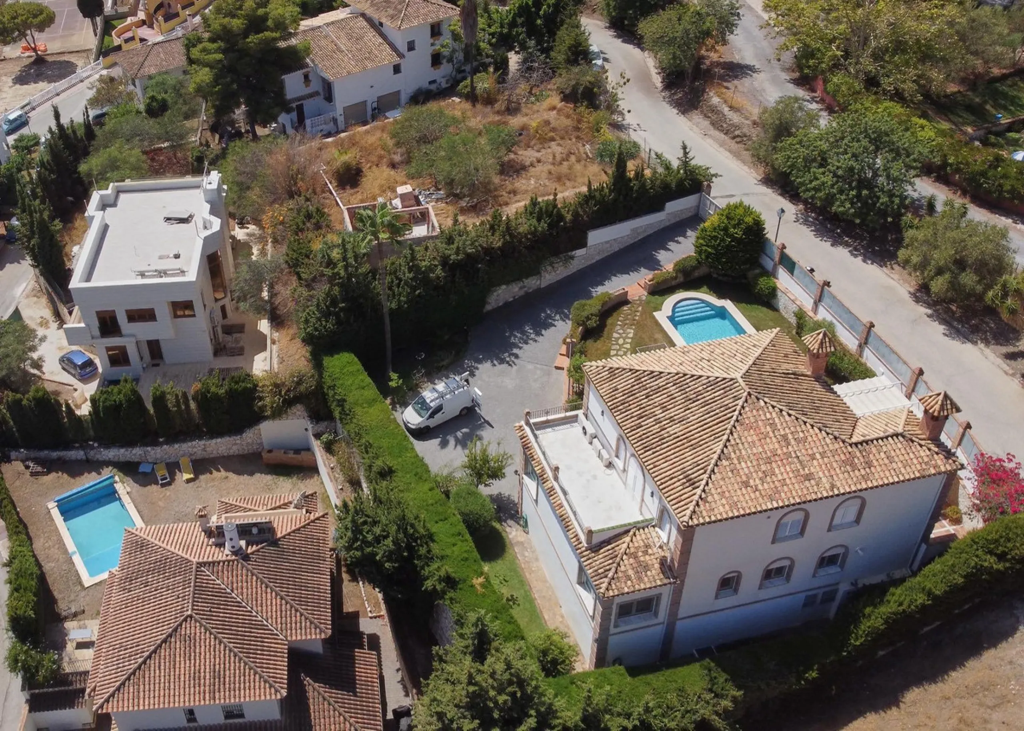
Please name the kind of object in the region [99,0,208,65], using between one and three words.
house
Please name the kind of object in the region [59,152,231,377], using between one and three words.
house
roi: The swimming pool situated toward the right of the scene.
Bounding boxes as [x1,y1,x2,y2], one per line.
[654,291,757,346]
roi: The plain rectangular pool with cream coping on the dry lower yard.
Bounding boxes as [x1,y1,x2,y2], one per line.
[47,475,144,587]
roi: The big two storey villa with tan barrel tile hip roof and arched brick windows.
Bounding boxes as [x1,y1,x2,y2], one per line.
[515,328,965,669]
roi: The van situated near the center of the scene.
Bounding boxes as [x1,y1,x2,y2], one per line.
[396,363,490,432]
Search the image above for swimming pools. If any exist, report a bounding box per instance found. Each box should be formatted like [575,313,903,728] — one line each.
[654,291,757,346]
[47,475,144,587]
